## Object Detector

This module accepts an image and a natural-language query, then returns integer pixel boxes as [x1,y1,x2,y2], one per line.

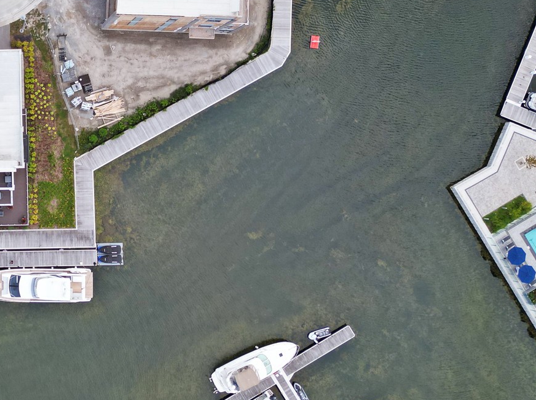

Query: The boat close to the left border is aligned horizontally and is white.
[0,265,92,301]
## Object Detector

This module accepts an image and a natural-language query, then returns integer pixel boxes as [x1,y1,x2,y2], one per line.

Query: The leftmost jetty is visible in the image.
[0,249,98,267]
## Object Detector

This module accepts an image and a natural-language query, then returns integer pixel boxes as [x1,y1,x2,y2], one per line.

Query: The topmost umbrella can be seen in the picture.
[504,247,526,265]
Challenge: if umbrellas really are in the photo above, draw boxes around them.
[515,265,535,284]
[504,247,526,265]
